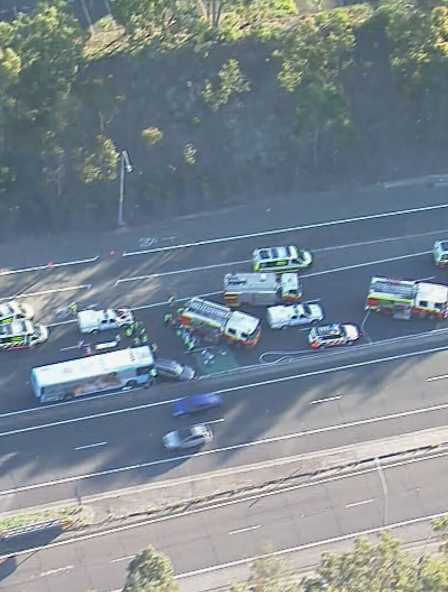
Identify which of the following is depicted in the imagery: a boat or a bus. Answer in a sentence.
Looking from above, you can make out a bus.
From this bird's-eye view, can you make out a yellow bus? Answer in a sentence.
No, the photo shows no yellow bus.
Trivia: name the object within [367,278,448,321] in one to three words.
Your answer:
truck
